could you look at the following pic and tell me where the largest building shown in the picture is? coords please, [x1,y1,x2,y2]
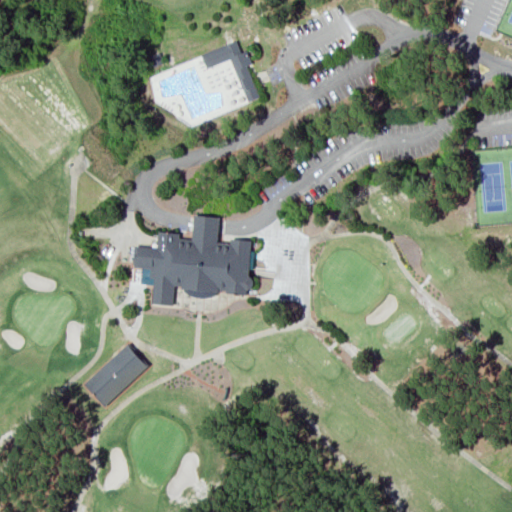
[134,216,257,306]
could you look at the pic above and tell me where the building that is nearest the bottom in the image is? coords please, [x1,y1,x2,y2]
[83,342,152,408]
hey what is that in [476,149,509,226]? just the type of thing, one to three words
tennis court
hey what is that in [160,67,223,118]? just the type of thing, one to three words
swimming pool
